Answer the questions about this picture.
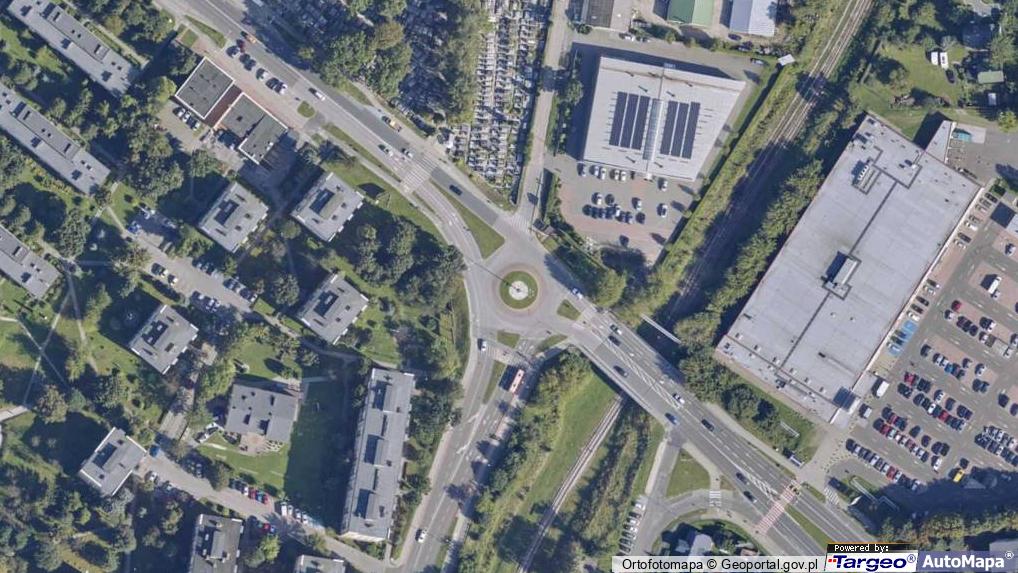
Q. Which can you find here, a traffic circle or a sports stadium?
traffic circle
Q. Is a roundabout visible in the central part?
Yes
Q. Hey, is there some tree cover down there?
Yes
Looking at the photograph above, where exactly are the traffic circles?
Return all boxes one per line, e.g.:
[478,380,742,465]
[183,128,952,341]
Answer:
[471,243,566,336]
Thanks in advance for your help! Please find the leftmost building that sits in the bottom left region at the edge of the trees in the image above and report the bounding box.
[79,426,149,498]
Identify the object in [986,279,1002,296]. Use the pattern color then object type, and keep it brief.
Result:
white vehicle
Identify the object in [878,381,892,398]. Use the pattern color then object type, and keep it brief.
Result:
white vehicle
